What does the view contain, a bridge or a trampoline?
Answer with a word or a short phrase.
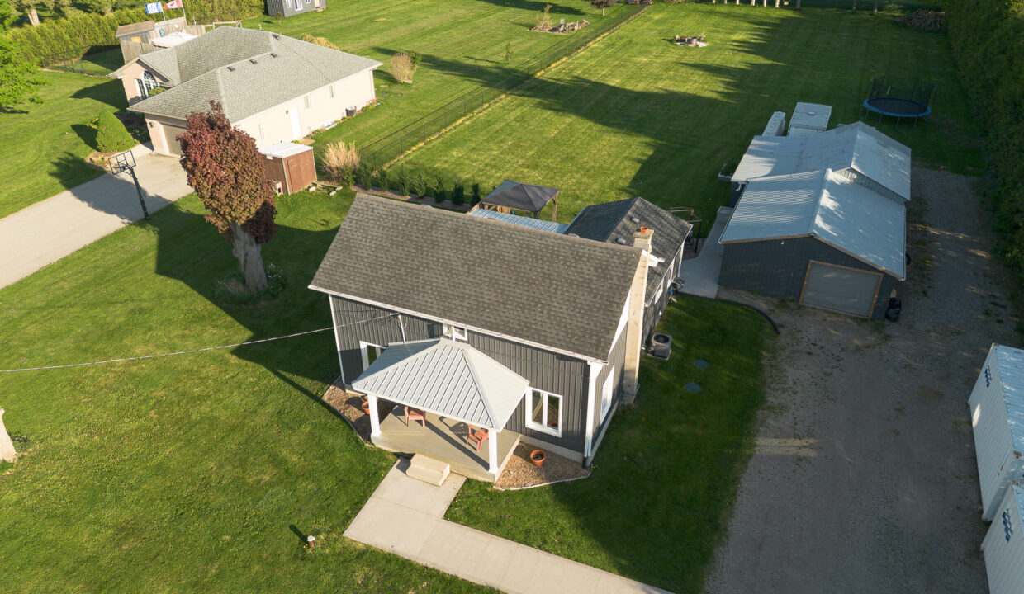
trampoline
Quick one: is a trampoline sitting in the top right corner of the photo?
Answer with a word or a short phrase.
Yes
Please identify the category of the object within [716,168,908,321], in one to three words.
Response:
building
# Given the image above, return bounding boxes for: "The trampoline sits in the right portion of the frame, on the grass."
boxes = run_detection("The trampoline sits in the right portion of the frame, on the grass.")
[863,75,940,129]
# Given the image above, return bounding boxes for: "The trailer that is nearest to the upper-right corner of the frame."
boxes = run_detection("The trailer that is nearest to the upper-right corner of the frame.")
[789,103,831,136]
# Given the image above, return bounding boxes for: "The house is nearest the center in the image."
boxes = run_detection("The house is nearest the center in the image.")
[304,194,693,487]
